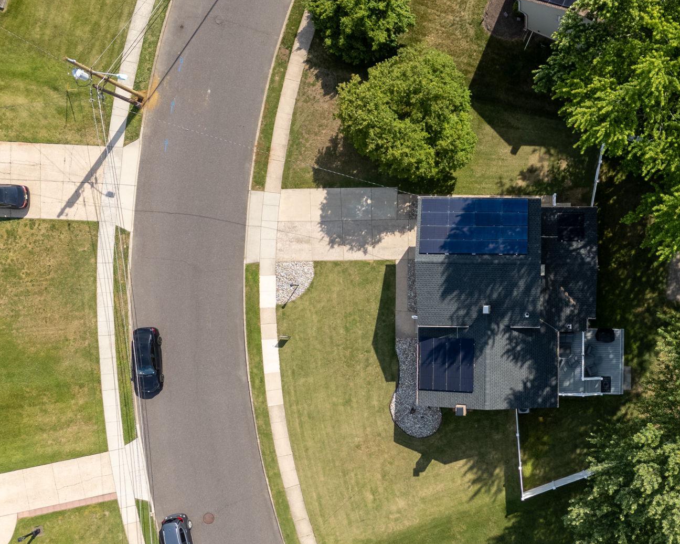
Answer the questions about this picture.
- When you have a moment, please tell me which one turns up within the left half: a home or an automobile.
automobile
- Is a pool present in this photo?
No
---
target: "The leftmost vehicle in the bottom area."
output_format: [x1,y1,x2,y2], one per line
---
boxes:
[130,328,167,396]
